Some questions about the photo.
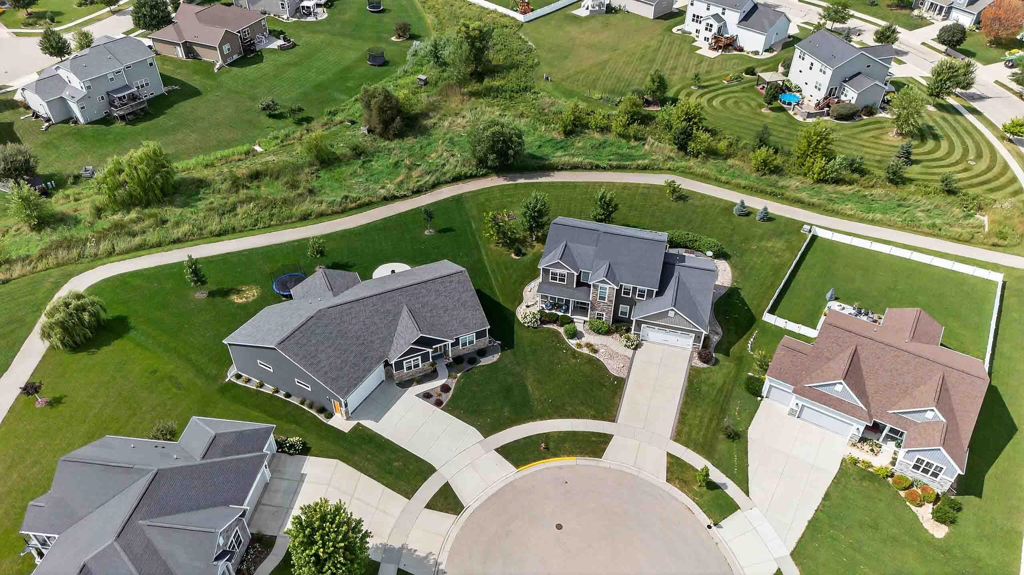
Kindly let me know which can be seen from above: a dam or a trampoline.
trampoline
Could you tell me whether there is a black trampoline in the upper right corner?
No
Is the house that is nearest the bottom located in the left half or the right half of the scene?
left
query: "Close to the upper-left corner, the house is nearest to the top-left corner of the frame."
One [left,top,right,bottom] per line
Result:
[19,34,173,122]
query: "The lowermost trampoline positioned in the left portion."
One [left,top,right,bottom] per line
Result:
[270,263,308,300]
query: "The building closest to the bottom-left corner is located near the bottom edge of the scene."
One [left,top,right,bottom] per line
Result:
[14,416,277,575]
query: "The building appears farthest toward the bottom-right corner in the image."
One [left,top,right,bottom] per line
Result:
[764,302,993,501]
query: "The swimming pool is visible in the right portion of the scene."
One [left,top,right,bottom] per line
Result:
[778,90,805,106]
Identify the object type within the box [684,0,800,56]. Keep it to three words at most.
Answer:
house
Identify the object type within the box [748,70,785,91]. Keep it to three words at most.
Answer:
gazebo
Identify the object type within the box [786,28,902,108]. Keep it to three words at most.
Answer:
house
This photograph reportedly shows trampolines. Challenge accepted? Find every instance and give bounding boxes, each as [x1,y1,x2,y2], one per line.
[365,48,387,68]
[366,0,383,12]
[270,263,308,300]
